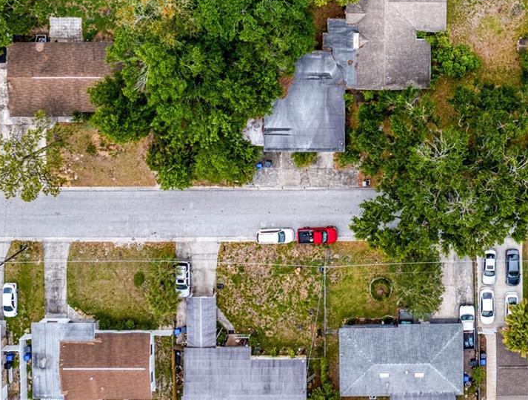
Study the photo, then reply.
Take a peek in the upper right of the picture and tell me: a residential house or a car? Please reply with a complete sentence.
Looking in the upper right of the picture, you will find a residential house.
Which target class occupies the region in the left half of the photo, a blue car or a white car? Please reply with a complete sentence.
What appears in the left half of the photo is a white car.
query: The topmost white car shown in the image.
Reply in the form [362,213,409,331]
[257,227,294,246]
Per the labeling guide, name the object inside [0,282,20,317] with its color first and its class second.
white car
